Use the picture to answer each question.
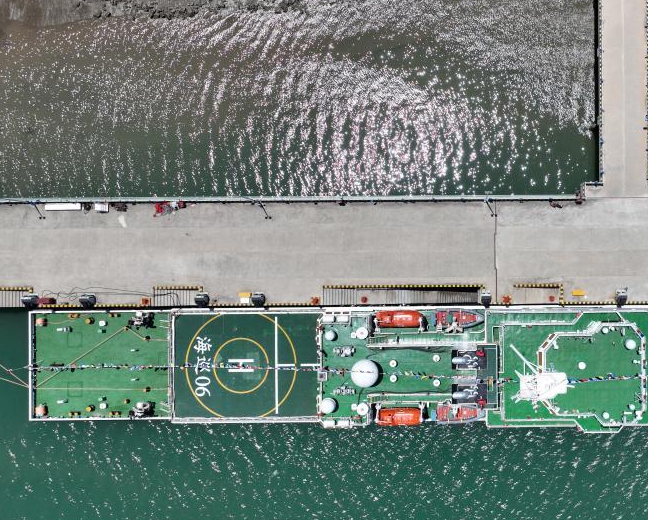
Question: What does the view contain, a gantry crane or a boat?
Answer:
boat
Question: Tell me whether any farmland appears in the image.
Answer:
No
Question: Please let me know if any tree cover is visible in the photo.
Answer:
No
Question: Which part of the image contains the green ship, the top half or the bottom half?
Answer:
bottom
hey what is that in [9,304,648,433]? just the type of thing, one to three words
ship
